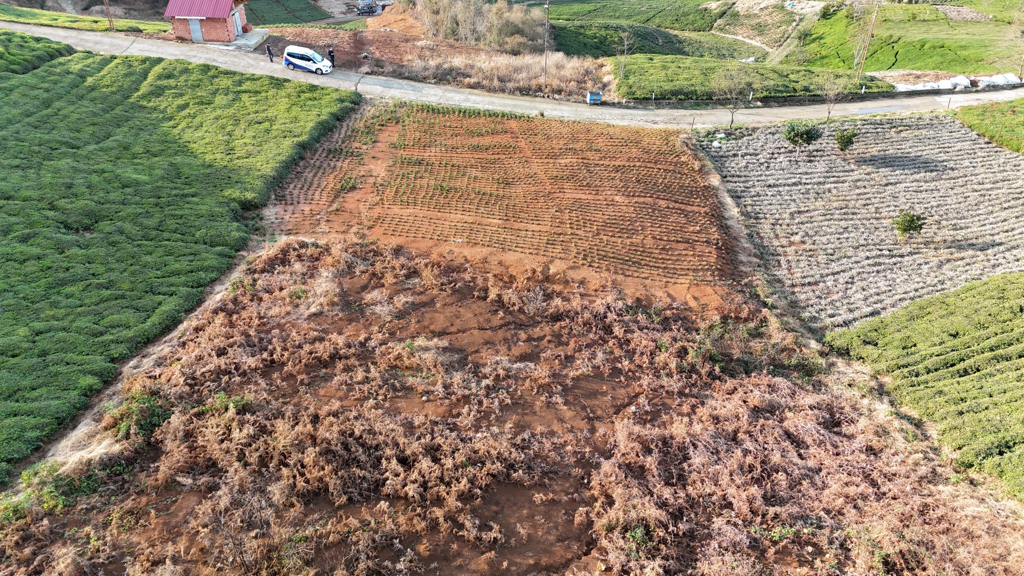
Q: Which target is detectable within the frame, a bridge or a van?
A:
van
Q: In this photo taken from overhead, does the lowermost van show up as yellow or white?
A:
white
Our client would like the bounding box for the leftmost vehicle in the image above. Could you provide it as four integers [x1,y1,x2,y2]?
[281,41,336,73]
